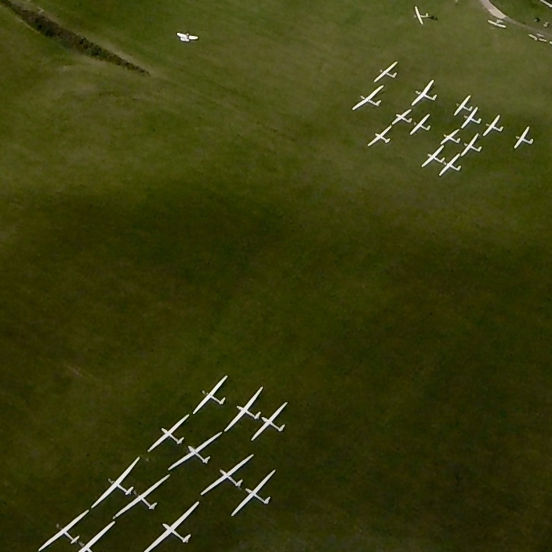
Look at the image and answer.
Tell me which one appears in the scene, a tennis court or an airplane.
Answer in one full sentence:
Visible in the photo is an airplane.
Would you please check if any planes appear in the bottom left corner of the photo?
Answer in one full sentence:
Yes, in the bottom left corner of the photo there is a plane.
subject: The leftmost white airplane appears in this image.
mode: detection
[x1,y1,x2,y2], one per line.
[39,511,89,550]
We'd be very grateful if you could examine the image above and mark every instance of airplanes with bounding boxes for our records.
[39,511,89,550]
[353,85,383,109]
[225,388,263,429]
[232,469,274,517]
[145,501,198,552]
[441,130,461,144]
[441,154,461,174]
[92,456,138,508]
[113,473,169,520]
[193,376,227,413]
[462,108,481,126]
[80,520,114,552]
[202,456,253,493]
[488,18,506,28]
[462,135,481,154]
[412,79,435,105]
[148,416,189,450]
[368,125,391,146]
[483,116,503,135]
[391,108,412,125]
[174,31,199,40]
[421,145,445,168]
[252,402,286,442]
[168,431,221,471]
[414,6,429,25]
[514,128,533,147]
[375,62,399,79]
[411,115,432,133]
[454,96,474,114]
